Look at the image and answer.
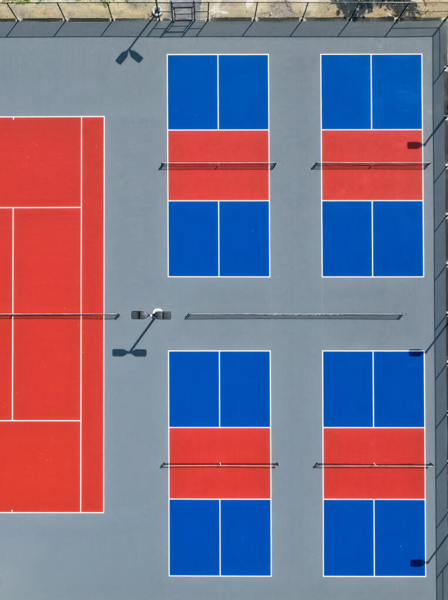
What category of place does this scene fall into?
sports ground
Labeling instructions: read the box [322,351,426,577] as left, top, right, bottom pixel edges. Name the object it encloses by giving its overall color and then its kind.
blue sports court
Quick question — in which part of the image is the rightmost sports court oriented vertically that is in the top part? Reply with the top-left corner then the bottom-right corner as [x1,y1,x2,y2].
[320,54,424,277]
